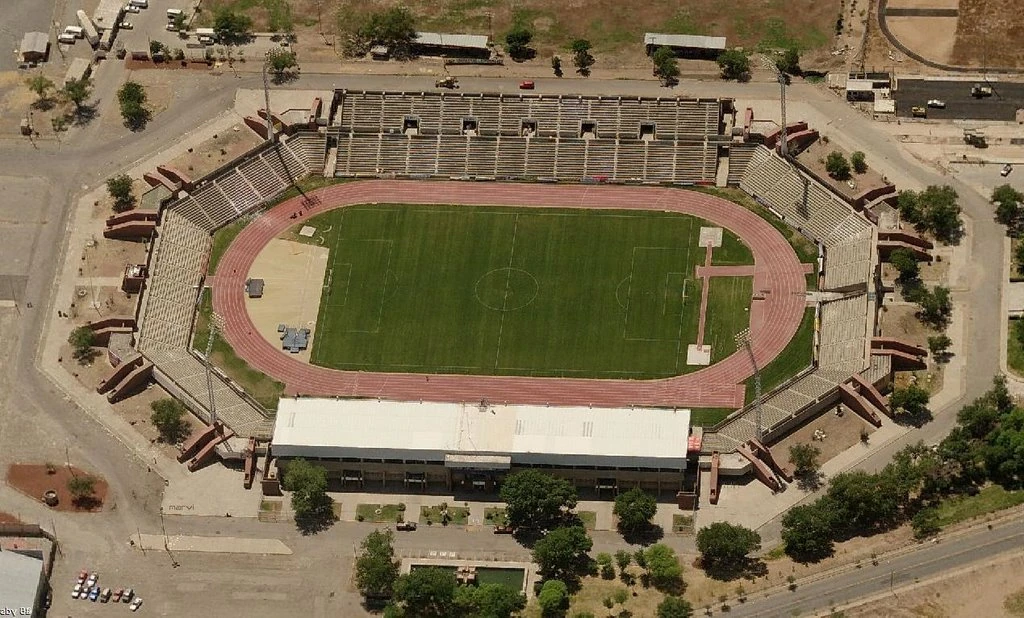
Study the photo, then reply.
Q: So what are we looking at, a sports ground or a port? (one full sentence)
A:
The area seen from above is a sports ground.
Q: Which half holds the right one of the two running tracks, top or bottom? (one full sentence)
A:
The top half of the photo is where the right one of the two running tracks is.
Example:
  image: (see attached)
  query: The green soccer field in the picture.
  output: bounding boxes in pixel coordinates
[309,205,698,377]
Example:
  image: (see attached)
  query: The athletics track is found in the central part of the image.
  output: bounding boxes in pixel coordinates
[204,180,815,407]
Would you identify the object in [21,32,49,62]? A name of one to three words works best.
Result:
shed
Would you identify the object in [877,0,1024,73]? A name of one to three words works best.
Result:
running track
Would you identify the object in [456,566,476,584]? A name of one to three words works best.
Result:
fountain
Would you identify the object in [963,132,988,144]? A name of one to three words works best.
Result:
vehicle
